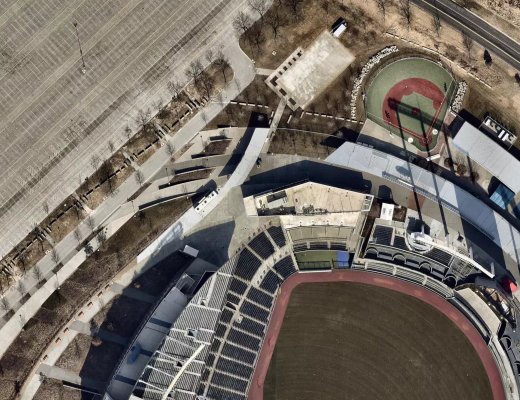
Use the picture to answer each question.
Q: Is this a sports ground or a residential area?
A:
sports ground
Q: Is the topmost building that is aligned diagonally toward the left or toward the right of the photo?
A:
right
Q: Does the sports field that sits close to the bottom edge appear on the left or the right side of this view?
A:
right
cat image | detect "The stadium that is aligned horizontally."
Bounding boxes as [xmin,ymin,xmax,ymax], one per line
[101,206,515,400]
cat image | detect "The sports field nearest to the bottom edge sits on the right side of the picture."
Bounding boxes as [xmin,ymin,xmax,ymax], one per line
[262,281,493,400]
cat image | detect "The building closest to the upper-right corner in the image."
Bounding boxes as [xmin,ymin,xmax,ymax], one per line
[452,120,520,198]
